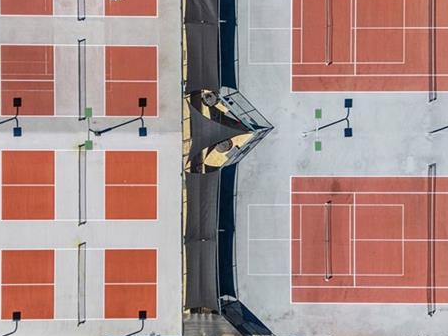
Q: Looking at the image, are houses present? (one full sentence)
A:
No, no house is visible in the scene.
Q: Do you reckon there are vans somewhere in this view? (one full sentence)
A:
No, no van can be seen from above.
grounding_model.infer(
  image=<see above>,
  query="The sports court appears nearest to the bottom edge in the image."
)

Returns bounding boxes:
[1,249,157,321]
